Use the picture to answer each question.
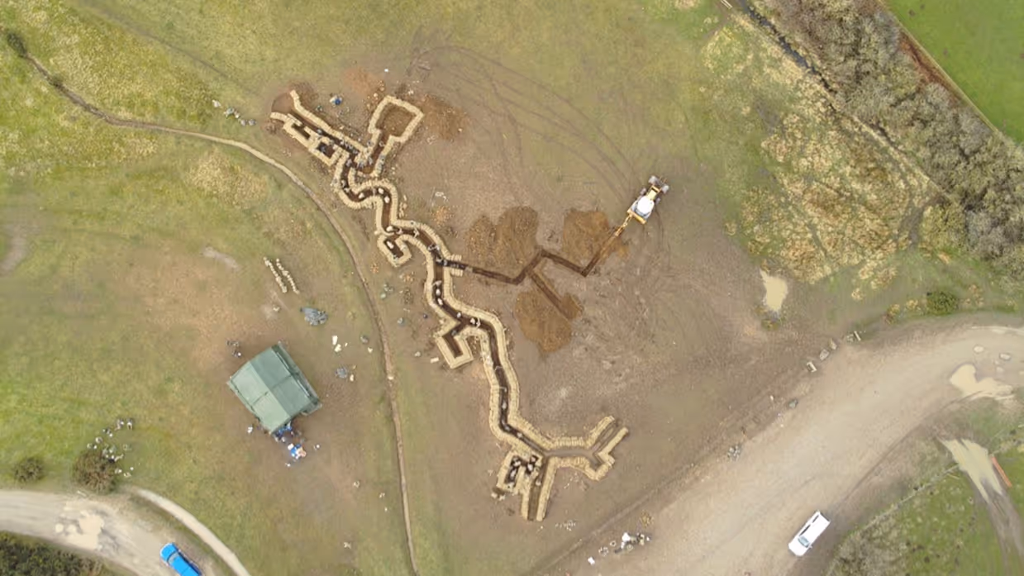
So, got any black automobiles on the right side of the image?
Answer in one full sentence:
No, no black automobile can be made out on the right side of the image.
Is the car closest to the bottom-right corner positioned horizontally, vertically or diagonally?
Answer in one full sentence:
Seen from above, the car closest to the bottom-right corner lies diagonally.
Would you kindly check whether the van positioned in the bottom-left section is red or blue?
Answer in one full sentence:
The van positioned in the bottom-left section is blue.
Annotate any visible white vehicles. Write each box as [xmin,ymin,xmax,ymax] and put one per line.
[610,174,671,243]
[786,508,830,554]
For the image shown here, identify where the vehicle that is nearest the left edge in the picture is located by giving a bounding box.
[160,539,206,576]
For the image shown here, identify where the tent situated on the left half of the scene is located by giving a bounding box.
[227,336,327,434]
